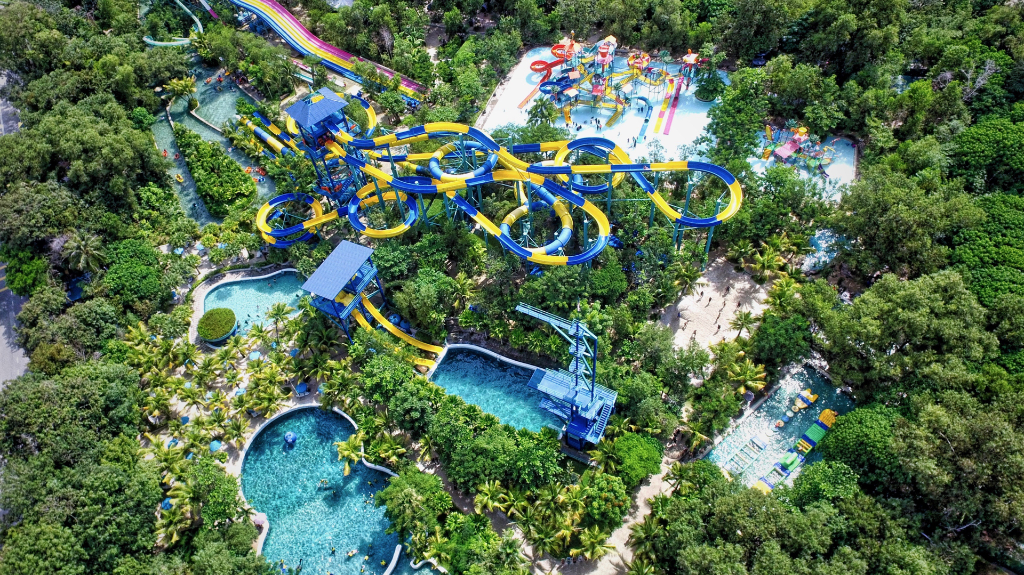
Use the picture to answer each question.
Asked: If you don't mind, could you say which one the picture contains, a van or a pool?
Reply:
pool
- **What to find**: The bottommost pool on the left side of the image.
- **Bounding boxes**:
[241,405,445,575]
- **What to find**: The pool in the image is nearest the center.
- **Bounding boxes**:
[431,346,574,433]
